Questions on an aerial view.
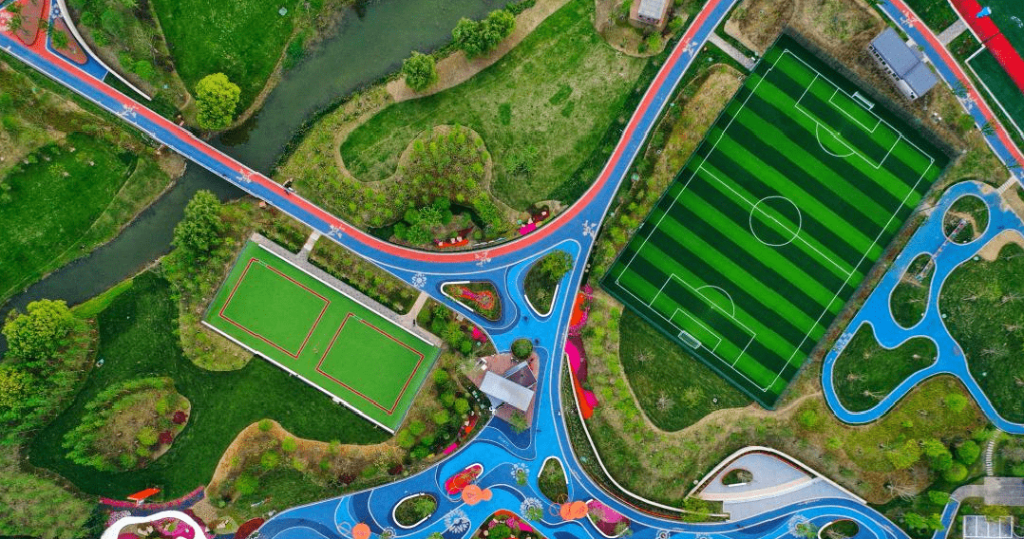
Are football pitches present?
Yes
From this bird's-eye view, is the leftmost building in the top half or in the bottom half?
bottom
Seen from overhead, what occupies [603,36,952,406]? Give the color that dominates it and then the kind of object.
green soccer field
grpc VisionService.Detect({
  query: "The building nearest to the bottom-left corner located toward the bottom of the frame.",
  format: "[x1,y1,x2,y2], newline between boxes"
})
[479,361,537,412]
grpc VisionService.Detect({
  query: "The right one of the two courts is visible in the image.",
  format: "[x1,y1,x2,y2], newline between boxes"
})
[296,294,440,433]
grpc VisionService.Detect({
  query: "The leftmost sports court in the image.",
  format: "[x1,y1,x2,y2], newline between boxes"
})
[203,238,342,375]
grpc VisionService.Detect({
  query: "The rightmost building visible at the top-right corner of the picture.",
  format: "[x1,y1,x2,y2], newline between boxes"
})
[865,29,936,101]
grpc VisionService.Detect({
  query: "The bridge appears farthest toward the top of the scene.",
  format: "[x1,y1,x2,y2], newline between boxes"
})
[174,129,274,200]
